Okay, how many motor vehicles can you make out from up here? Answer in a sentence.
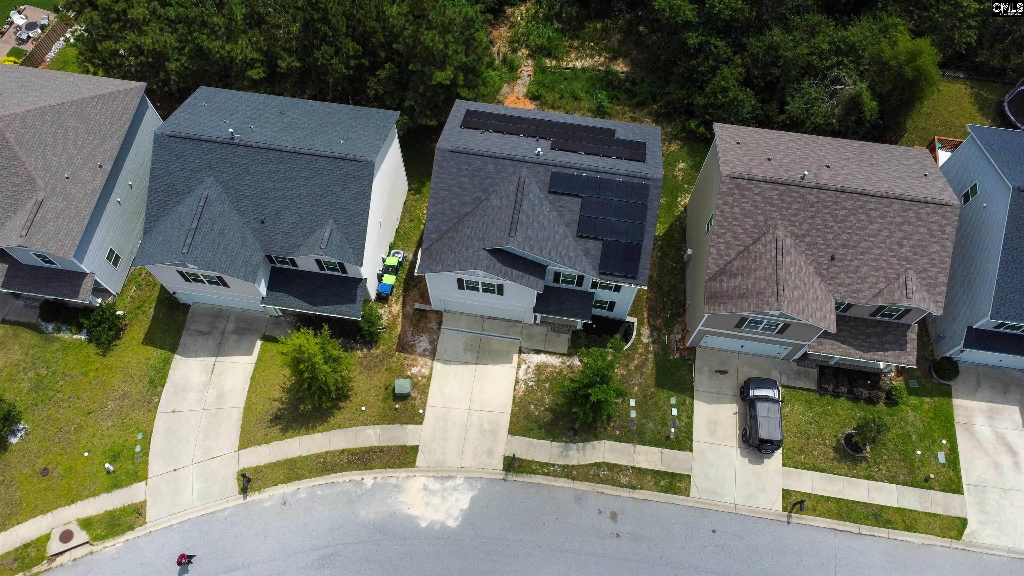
The picture shows 1 motor vehicle.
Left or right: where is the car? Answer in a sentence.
The car is on the right side of the image.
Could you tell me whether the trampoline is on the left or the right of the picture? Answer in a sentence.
You can find the trampoline on the right side of the picture.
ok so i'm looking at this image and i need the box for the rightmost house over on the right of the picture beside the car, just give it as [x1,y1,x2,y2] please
[683,122,960,374]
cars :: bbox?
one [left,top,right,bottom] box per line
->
[740,377,784,452]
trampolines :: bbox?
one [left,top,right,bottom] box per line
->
[999,73,1024,130]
